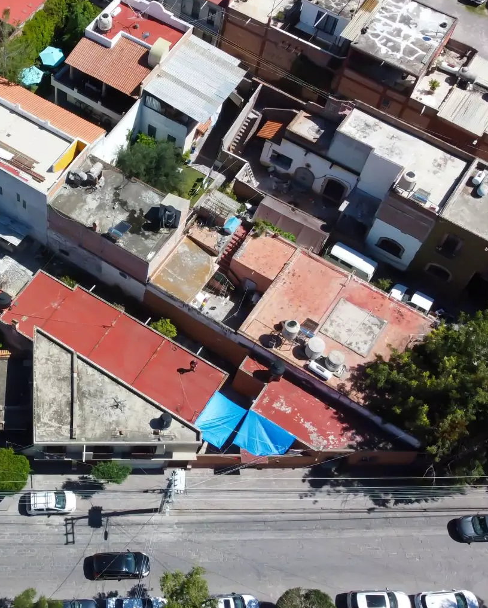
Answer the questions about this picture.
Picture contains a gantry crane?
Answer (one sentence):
No, no gantry crane can be seen from above.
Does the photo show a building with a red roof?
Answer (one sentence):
Yes, looking at the shot, I can spot a building with a red roof.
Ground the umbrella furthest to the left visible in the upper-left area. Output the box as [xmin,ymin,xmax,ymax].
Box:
[16,69,46,91]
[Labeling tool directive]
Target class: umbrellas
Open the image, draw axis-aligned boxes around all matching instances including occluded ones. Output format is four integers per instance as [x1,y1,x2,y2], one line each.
[16,69,46,91]
[37,50,67,79]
